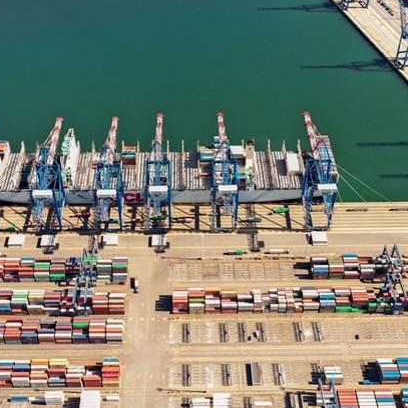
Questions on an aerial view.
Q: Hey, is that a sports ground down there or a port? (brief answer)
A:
port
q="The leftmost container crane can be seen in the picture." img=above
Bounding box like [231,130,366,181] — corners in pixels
[28,113,69,233]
